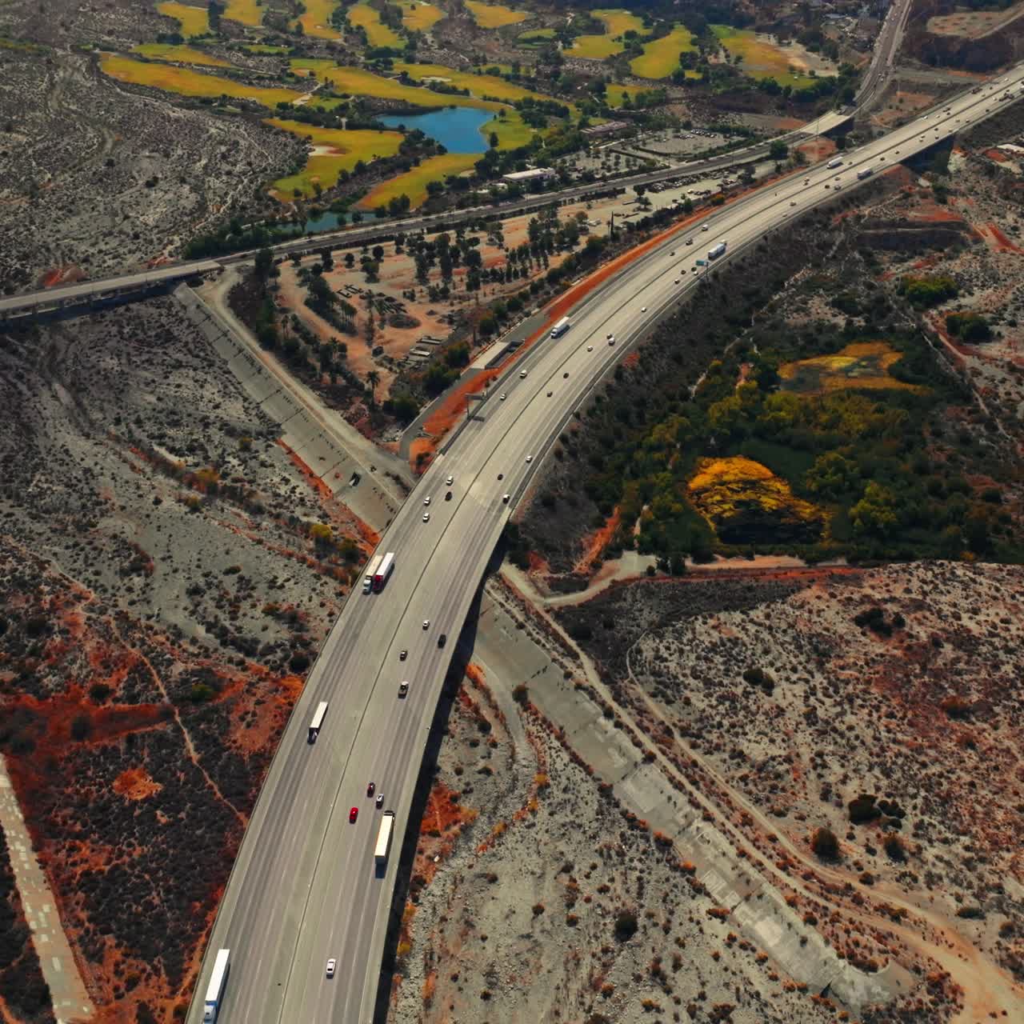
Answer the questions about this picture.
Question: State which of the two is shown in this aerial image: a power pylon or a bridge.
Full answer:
Looking from above, you can make out a bridge.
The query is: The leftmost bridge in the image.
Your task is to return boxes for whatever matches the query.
[0,257,219,326]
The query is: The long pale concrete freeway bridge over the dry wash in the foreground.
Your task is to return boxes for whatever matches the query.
[184,502,508,1024]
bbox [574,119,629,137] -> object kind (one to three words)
building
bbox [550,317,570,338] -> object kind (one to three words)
vehicle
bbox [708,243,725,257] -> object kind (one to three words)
vehicle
